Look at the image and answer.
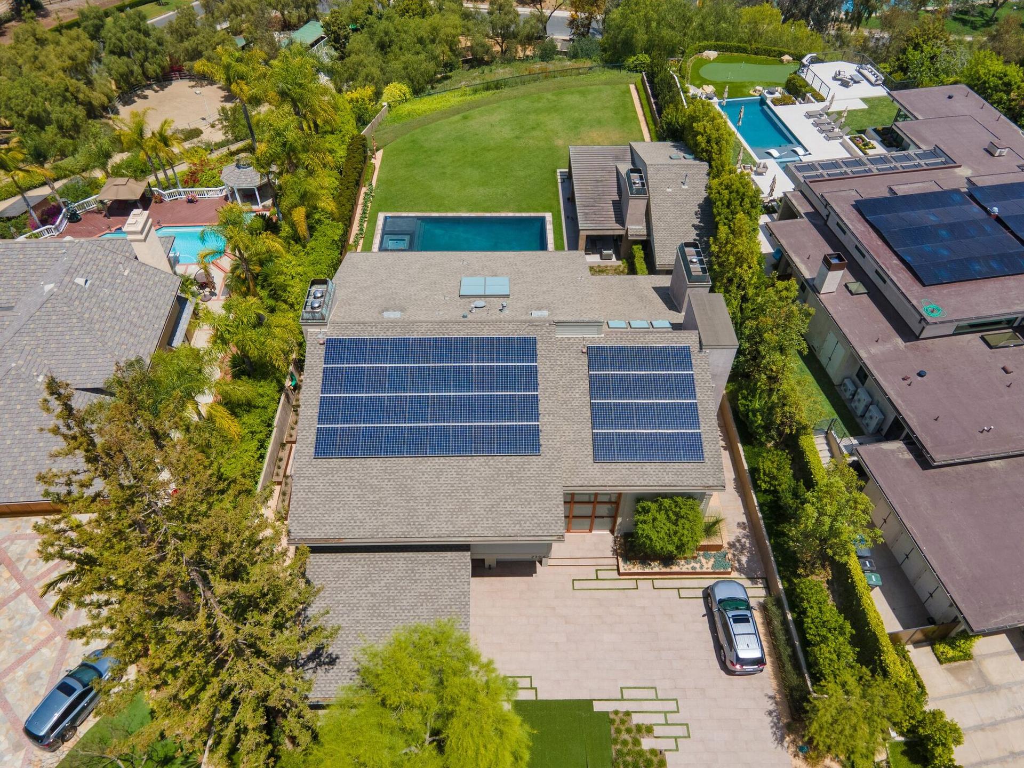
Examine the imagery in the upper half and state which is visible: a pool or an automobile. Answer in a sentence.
There is a pool in the upper half.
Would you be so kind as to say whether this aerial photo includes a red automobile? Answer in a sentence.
No, the frame has no red automobile in it.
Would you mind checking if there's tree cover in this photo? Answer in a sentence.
Yes, some tree cover is visible.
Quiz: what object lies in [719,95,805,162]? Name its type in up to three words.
swimming pool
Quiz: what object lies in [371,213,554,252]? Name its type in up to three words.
swimming pool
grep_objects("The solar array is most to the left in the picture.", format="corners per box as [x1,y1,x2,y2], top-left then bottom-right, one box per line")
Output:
[314,335,540,459]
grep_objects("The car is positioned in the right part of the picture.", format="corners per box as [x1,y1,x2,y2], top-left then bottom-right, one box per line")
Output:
[710,578,769,680]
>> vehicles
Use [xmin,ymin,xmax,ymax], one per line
[710,578,769,680]
[18,644,129,758]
